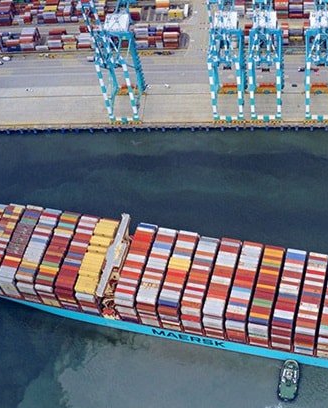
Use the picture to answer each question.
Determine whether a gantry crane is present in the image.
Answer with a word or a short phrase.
Yes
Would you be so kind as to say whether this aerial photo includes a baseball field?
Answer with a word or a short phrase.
No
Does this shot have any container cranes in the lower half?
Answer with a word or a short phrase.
No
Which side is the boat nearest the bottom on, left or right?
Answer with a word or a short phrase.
right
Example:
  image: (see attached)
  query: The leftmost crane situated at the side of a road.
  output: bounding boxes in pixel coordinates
[83,0,145,121]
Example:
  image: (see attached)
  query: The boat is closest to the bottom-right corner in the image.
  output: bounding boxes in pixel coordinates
[277,361,300,405]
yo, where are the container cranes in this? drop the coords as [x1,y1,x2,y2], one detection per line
[83,0,145,121]
[207,0,247,121]
[248,0,283,121]
[302,0,328,121]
